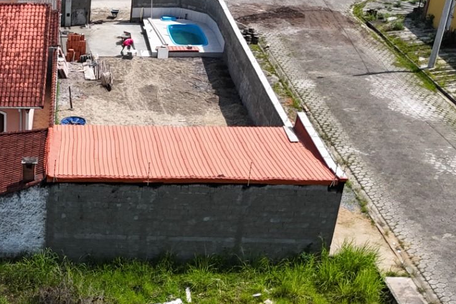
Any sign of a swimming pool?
Yes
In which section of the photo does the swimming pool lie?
top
